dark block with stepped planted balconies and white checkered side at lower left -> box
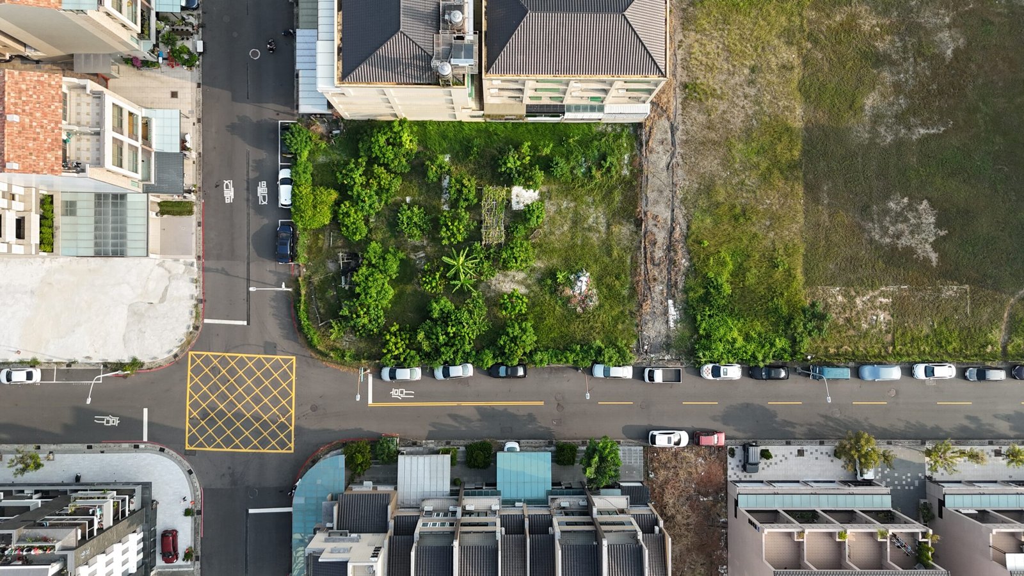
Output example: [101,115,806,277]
[0,485,156,576]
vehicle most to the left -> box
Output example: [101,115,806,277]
[2,367,44,386]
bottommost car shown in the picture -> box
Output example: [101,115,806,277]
[159,527,180,562]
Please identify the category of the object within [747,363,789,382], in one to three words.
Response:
car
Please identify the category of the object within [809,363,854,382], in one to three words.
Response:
vehicle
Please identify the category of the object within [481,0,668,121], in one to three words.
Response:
building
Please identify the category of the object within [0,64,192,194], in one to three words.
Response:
house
